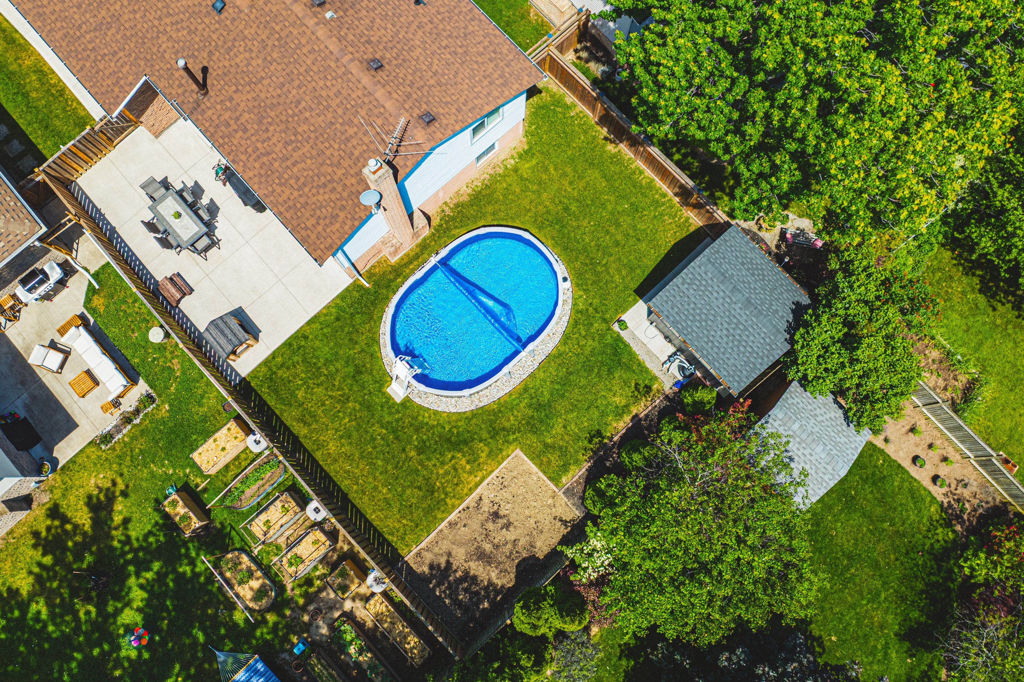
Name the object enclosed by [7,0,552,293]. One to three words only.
house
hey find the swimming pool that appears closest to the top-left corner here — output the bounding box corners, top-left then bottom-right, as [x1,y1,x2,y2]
[384,225,570,397]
